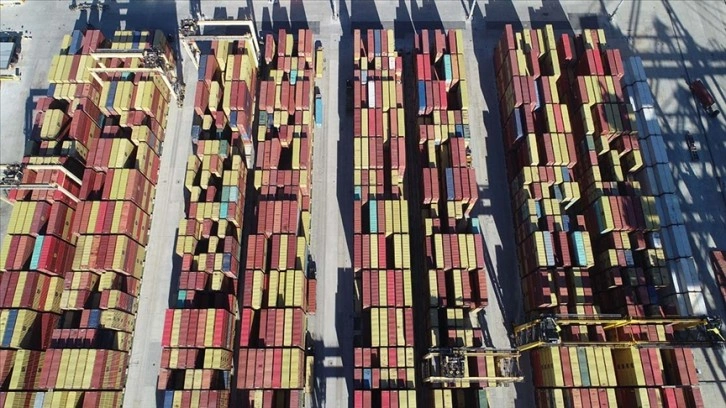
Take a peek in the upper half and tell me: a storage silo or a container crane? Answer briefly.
container crane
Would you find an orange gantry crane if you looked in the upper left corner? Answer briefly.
No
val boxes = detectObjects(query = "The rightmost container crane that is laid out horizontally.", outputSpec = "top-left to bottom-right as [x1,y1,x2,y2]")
[603,314,726,351]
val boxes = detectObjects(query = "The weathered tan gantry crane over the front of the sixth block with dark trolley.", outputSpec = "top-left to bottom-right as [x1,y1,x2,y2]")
[414,347,523,387]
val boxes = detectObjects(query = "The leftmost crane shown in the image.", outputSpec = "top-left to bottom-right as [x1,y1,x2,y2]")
[0,162,83,205]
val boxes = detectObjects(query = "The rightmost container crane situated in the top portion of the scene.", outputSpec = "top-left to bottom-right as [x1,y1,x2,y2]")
[178,14,265,76]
